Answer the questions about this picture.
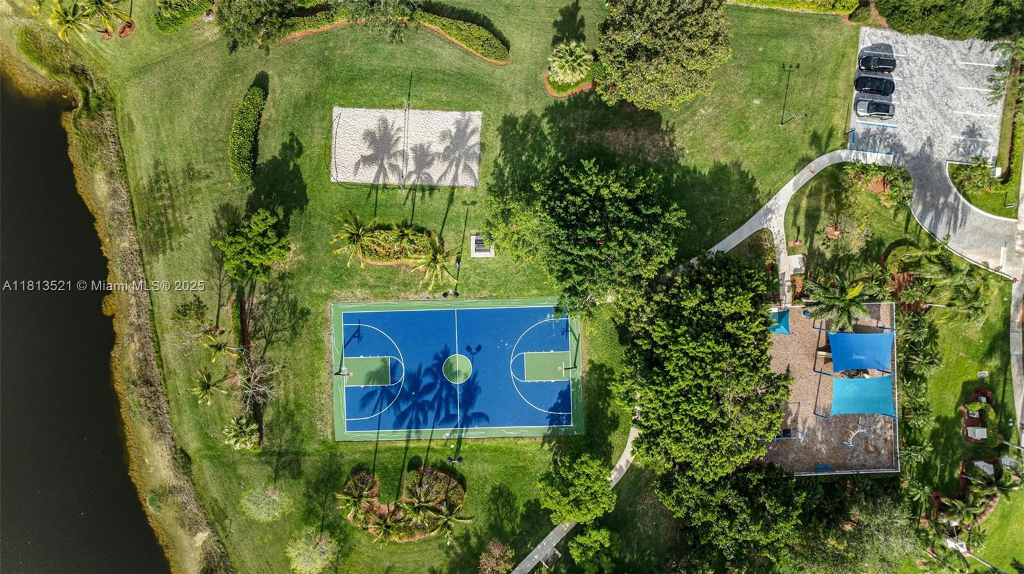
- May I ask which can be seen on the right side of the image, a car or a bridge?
car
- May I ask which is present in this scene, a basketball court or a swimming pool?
basketball court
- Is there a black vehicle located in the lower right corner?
No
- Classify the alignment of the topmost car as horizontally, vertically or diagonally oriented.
horizontally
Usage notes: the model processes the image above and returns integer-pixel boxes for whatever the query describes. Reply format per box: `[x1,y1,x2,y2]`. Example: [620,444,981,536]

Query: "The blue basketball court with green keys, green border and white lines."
[330,298,584,442]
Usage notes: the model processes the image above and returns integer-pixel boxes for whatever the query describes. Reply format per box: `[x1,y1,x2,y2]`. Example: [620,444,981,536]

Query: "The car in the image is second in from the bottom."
[856,74,897,95]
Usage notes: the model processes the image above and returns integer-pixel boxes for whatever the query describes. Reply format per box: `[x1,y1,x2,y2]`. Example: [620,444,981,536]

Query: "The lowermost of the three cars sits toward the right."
[857,98,899,118]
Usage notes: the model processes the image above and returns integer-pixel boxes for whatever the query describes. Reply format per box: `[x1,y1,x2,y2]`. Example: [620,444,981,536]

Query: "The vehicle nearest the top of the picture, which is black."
[860,51,901,72]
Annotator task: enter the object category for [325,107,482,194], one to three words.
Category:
sports court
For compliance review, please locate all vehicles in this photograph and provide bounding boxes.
[856,74,897,95]
[860,51,901,72]
[857,98,899,118]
